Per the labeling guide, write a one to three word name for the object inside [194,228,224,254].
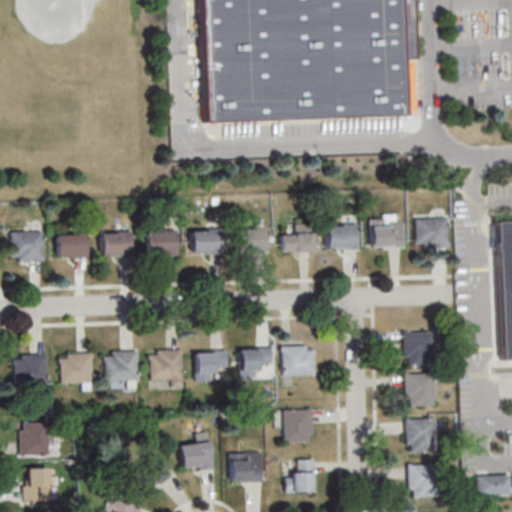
house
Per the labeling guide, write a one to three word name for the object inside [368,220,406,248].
house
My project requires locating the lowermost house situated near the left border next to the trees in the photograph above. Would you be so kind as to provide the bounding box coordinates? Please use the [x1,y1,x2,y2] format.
[23,468,55,504]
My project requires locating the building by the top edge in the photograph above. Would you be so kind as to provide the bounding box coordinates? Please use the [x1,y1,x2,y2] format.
[202,0,423,122]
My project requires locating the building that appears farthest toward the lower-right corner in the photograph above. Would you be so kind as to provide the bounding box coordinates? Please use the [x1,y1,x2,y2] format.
[477,474,512,501]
